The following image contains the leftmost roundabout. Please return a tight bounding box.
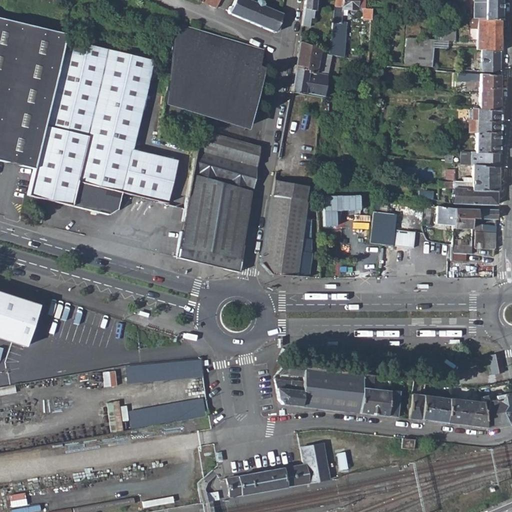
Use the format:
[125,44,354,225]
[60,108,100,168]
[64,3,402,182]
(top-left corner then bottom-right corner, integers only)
[216,292,261,338]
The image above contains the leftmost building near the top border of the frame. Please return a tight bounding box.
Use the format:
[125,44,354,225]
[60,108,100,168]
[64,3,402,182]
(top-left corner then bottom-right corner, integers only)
[0,16,68,170]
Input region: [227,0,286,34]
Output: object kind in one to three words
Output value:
house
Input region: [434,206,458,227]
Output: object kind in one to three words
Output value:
house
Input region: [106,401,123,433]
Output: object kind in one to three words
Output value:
shed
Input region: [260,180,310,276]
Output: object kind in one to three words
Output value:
building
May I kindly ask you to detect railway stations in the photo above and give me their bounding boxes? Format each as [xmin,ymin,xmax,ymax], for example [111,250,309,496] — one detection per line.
[226,468,290,498]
